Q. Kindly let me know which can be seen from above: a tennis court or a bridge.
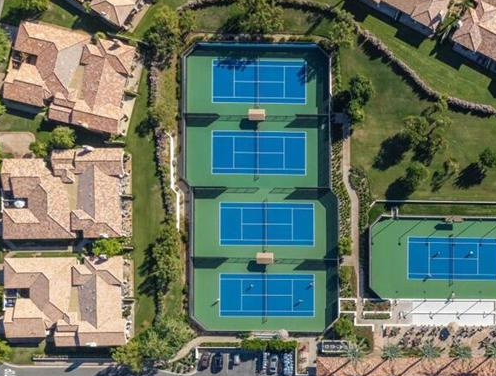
tennis court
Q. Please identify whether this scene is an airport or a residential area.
residential area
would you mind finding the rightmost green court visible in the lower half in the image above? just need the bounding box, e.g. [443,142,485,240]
[373,218,496,300]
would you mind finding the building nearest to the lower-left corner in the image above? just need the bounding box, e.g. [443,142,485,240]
[0,256,130,346]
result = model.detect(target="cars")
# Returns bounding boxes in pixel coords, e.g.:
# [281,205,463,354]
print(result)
[199,352,209,370]
[269,353,278,371]
[213,352,223,372]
